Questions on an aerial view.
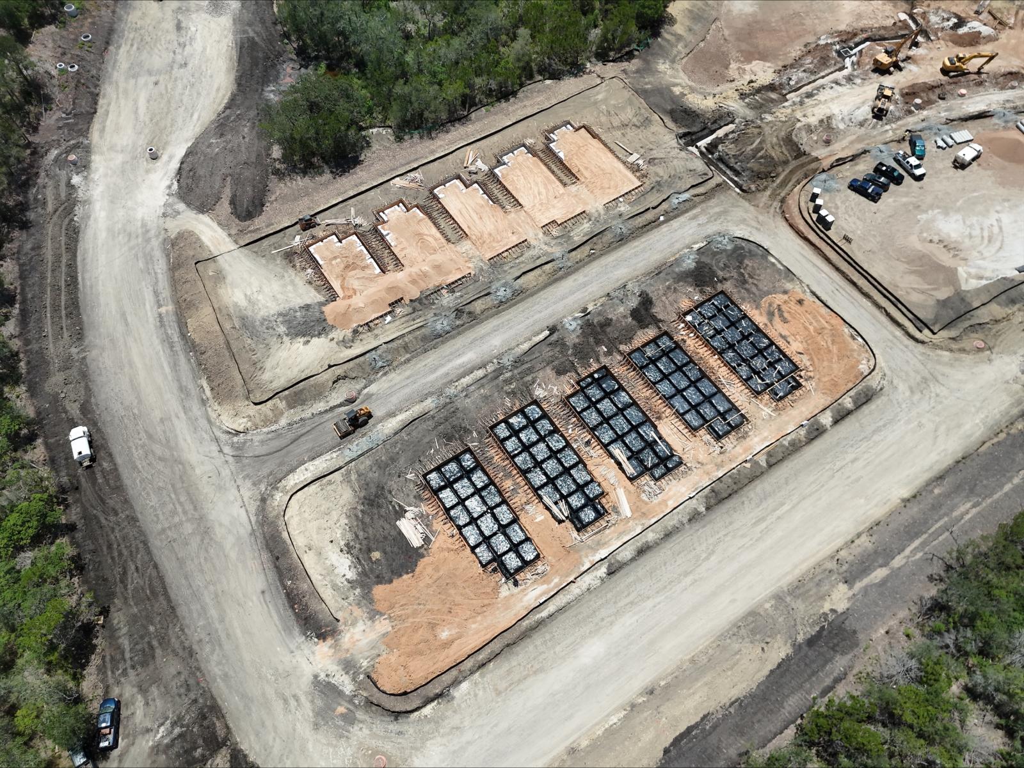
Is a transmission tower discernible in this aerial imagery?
No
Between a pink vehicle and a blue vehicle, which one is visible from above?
blue vehicle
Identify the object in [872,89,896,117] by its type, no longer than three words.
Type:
work vehicle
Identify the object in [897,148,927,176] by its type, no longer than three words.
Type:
truck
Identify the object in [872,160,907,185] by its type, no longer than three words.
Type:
truck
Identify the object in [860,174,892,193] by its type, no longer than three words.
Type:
car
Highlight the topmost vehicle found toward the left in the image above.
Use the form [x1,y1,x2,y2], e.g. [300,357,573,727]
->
[301,213,326,229]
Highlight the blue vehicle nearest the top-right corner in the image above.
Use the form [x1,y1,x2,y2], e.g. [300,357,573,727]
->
[908,134,927,159]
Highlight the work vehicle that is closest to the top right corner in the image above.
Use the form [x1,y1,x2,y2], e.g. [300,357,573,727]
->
[938,45,997,80]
